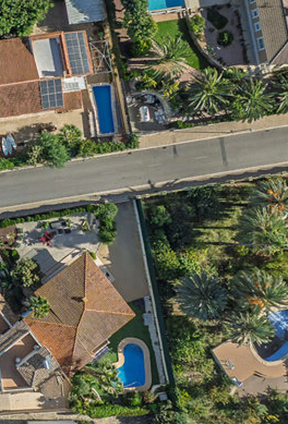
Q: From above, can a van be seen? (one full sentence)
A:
No, there isn't any van down there.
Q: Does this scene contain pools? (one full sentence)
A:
Yes, the frame does contain a pool.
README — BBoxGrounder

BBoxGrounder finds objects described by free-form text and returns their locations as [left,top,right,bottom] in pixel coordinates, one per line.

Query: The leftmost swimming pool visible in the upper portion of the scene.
[91,84,117,135]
